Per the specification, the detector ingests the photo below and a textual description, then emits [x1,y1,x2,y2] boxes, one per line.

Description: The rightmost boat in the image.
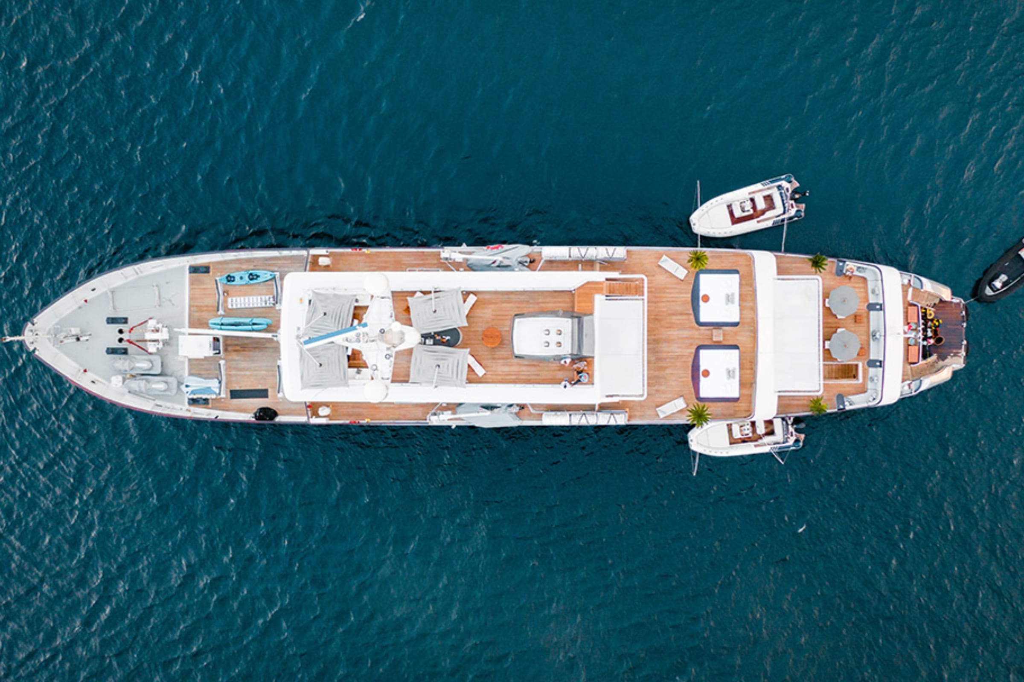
[969,236,1024,305]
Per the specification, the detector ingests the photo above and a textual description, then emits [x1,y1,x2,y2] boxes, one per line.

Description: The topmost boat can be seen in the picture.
[691,174,809,236]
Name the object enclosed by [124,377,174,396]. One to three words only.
boat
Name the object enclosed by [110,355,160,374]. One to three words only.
boat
